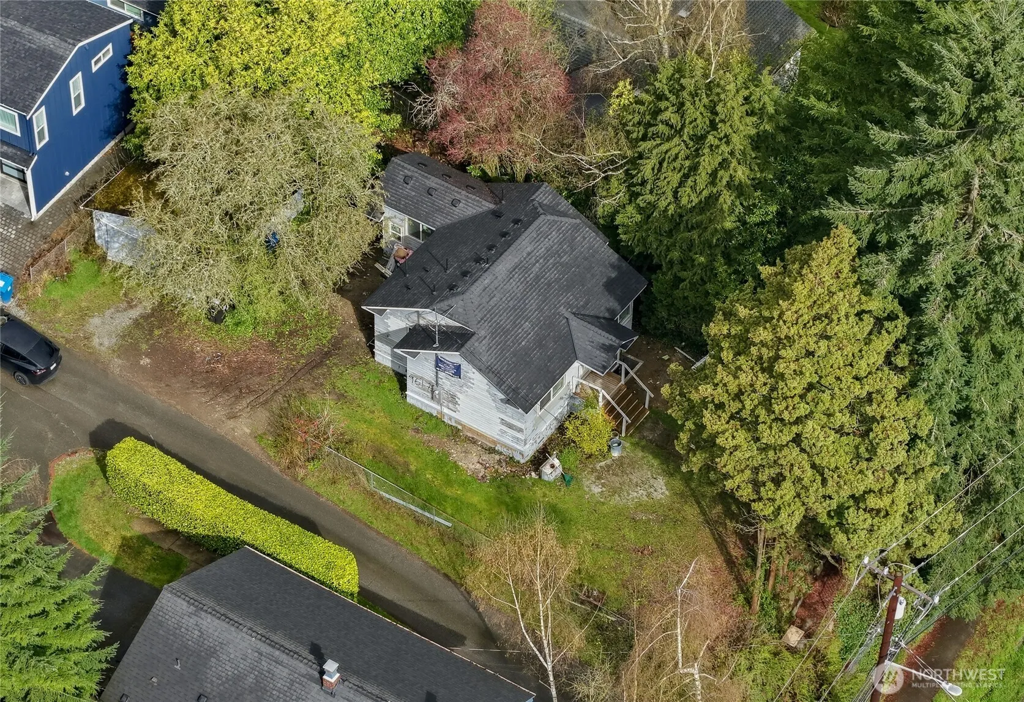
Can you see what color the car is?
black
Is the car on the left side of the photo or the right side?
left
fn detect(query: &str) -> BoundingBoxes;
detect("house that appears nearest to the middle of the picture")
[357,151,655,461]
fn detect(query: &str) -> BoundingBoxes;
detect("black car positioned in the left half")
[0,306,70,389]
